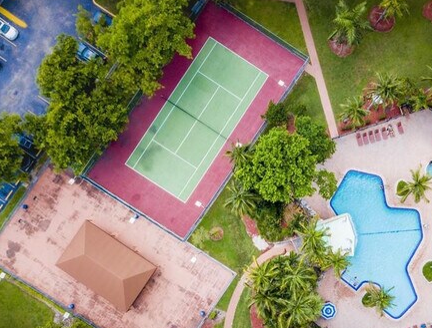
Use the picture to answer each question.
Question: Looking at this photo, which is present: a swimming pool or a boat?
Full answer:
The image shows a swimming pool.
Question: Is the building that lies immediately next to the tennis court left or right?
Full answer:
It is on the left.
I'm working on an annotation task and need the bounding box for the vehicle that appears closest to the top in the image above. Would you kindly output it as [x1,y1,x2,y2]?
[86,3,106,20]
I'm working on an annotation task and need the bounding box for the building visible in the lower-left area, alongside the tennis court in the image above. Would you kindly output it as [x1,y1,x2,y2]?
[56,220,157,313]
